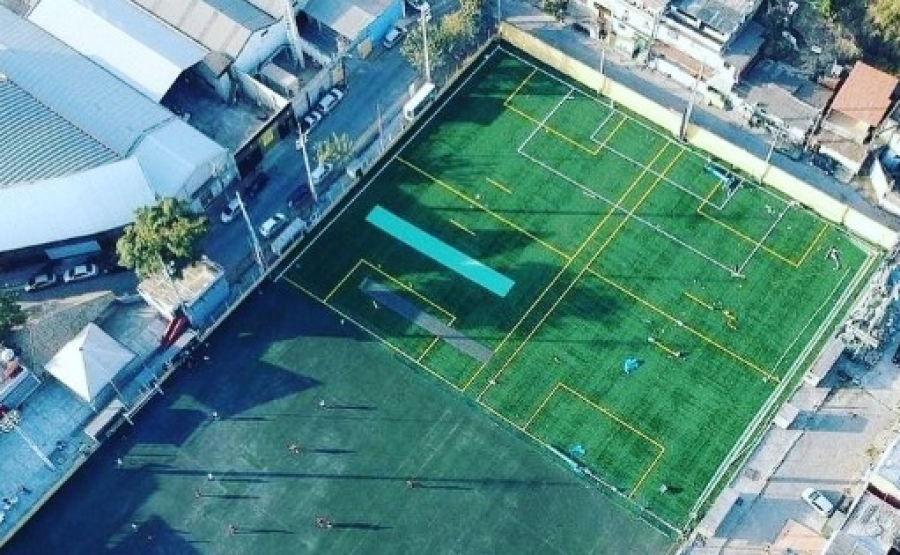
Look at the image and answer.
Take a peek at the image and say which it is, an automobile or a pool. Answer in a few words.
automobile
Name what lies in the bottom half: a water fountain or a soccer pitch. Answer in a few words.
soccer pitch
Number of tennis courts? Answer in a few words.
0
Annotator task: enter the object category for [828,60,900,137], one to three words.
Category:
house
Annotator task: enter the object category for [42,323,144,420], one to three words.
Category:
tent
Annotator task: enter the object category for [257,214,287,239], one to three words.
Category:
car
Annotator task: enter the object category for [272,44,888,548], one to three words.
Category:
soccer field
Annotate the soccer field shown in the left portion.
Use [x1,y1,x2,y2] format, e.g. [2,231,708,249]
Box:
[1,276,684,555]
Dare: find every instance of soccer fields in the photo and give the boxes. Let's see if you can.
[272,44,888,548]
[1,276,684,555]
